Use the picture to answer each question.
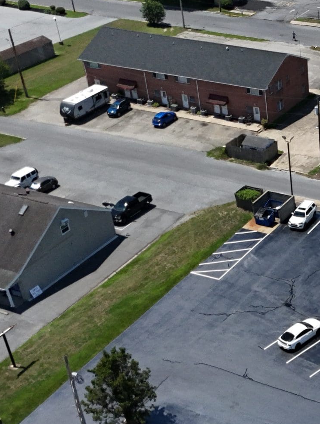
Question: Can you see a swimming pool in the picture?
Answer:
No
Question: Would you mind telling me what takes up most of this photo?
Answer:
paved ground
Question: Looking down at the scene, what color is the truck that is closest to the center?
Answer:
black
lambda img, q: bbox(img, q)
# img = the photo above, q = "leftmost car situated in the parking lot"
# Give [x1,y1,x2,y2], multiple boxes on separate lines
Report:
[1,161,45,188]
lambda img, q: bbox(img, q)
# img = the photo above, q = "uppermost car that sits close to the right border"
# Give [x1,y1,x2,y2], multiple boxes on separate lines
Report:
[284,198,319,230]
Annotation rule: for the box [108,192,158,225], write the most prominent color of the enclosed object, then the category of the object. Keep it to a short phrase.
black truck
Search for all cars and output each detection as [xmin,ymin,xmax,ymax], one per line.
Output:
[105,98,135,117]
[29,173,67,195]
[270,319,320,354]
[1,161,45,188]
[284,198,319,230]
[150,112,179,129]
